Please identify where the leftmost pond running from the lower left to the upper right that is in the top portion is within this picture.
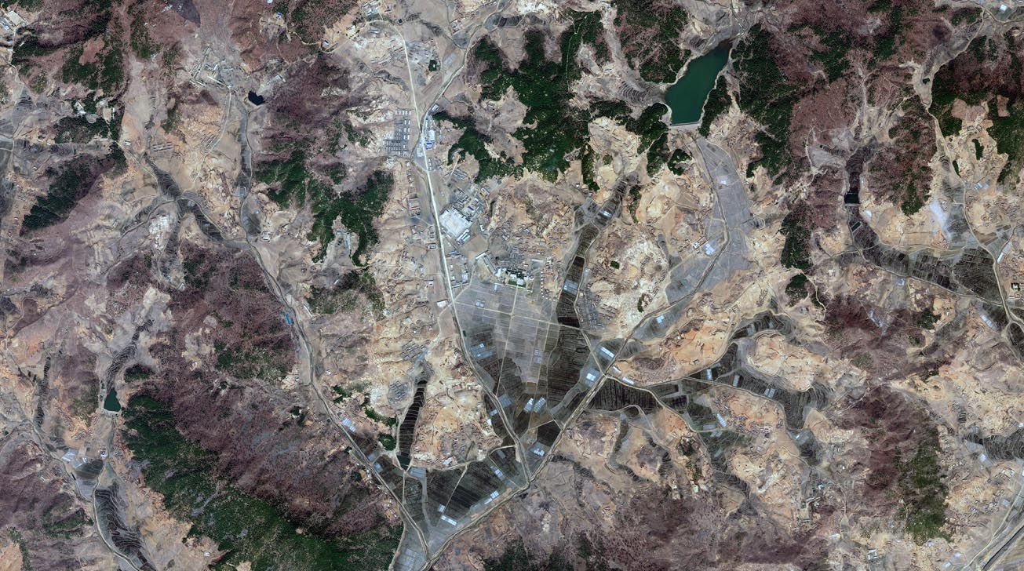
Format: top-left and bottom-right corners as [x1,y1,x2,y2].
[665,40,731,125]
